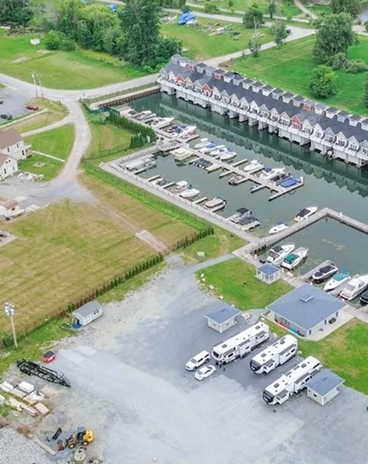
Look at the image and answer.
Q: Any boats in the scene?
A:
Yes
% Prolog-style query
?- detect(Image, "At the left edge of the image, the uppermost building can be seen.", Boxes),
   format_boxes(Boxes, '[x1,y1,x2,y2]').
[0,124,42,185]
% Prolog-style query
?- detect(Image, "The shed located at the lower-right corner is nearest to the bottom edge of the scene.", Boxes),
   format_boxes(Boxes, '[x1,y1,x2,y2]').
[301,366,348,405]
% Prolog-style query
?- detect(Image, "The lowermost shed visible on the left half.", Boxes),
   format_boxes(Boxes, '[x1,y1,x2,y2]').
[67,297,103,329]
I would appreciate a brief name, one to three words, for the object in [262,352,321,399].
camper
